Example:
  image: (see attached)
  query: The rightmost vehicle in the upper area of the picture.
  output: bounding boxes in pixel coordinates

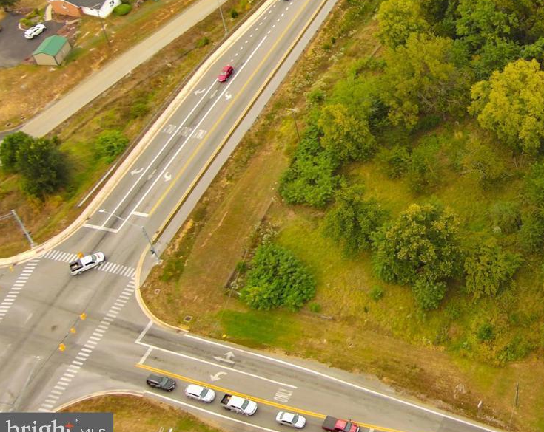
[216,63,233,80]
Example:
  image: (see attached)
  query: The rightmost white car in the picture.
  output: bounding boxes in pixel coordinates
[273,408,307,429]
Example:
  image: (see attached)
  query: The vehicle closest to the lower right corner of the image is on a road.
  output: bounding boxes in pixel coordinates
[319,413,360,432]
